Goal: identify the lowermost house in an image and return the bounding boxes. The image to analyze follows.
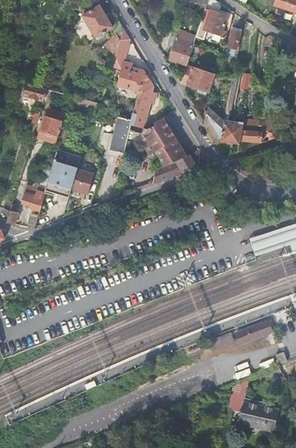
[238,400,280,432]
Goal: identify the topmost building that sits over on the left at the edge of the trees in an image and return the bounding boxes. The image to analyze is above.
[82,4,112,37]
